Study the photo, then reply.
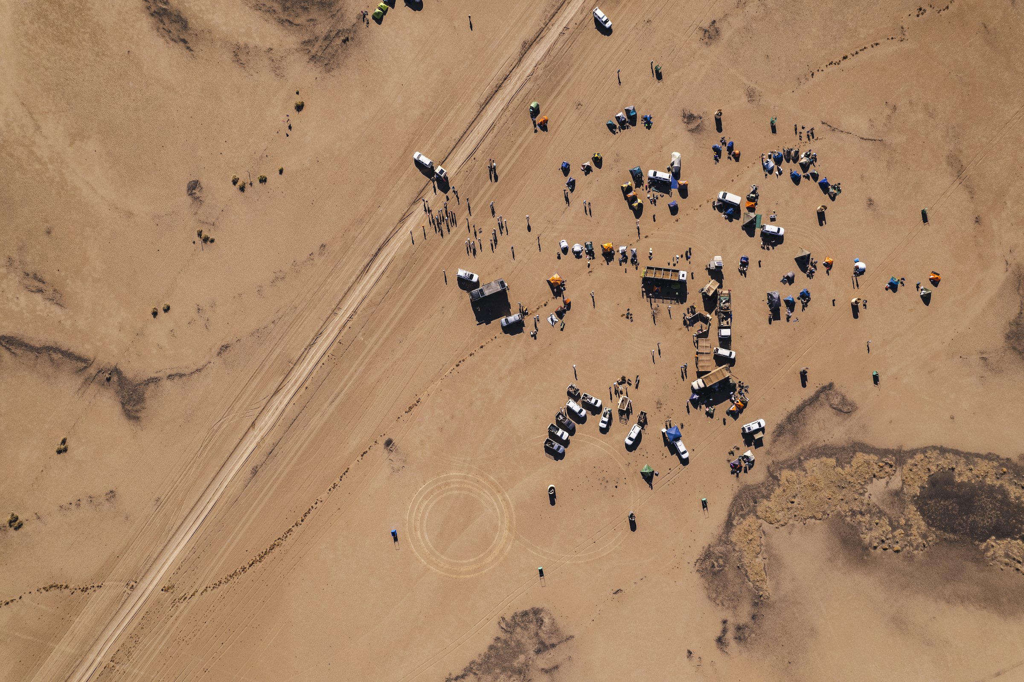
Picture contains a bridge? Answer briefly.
No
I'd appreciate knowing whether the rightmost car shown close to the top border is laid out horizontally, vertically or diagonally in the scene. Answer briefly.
diagonally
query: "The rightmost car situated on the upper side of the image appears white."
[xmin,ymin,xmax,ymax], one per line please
[758,223,784,236]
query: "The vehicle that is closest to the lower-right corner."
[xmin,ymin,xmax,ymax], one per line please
[740,418,765,433]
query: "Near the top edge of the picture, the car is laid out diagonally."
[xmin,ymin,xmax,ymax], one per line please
[592,5,613,30]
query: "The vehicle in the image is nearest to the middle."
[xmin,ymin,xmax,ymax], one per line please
[499,312,526,327]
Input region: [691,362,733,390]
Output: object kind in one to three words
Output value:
truck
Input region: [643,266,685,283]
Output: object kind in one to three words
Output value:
vehicle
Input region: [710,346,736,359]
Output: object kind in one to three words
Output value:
vehicle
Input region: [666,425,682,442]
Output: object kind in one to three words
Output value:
gazebo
